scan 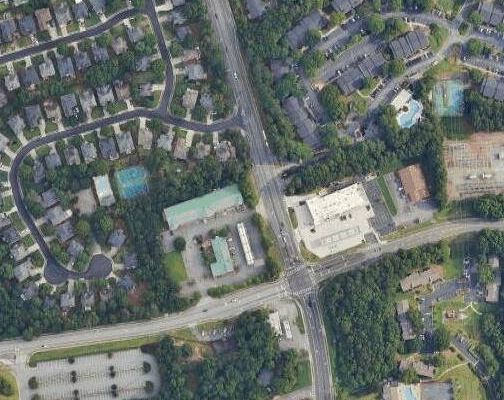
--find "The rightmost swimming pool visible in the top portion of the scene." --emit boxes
[397,95,423,130]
